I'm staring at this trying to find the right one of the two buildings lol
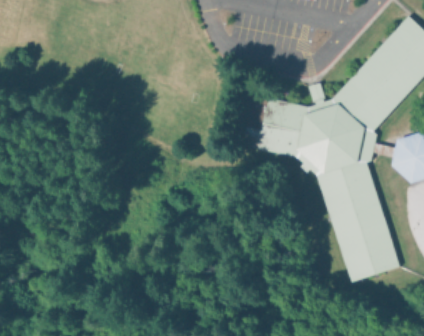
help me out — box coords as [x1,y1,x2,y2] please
[392,134,424,184]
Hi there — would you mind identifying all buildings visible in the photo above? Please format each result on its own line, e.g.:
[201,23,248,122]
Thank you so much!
[392,134,424,184]
[259,18,424,282]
